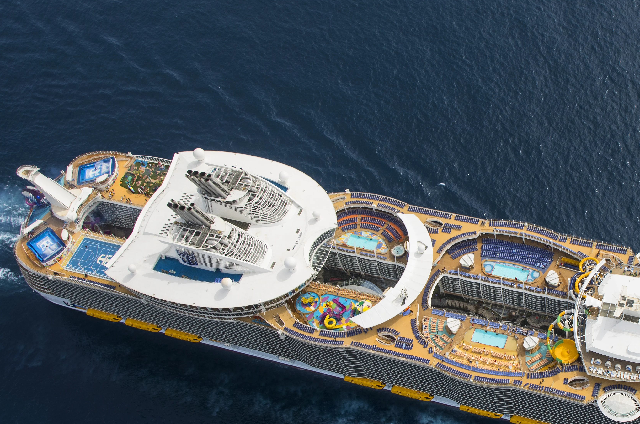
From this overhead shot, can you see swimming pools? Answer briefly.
Yes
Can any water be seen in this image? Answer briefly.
Yes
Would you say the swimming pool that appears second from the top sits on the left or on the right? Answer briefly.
right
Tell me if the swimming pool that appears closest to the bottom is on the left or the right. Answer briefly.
right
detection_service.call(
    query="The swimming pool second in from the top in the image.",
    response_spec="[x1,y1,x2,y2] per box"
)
[482,259,543,283]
